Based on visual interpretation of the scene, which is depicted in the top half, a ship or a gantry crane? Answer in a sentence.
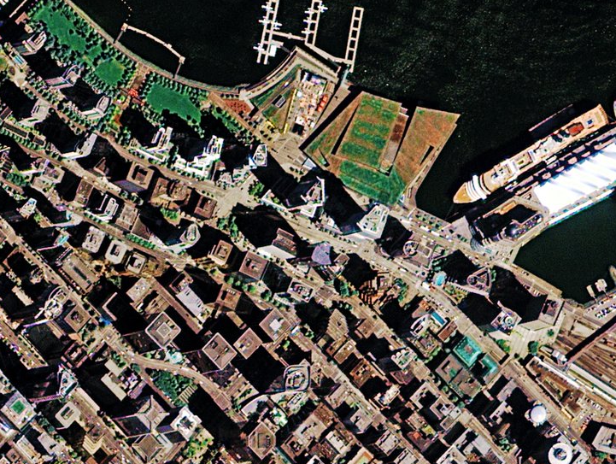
You can see a ship in the top half.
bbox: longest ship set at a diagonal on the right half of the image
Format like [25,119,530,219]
[451,104,609,203]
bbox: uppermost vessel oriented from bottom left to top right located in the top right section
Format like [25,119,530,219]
[528,104,575,137]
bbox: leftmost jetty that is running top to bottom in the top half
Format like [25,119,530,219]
[256,0,278,63]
